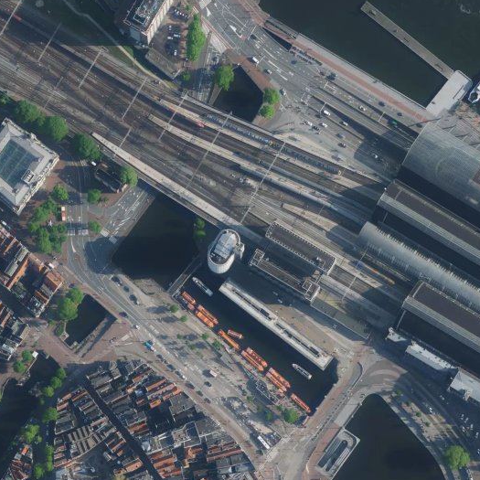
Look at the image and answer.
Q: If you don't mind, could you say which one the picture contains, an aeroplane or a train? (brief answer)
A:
train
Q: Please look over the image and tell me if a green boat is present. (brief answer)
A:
No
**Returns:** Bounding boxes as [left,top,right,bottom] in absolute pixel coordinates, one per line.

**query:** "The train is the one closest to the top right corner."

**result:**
[274,143,339,174]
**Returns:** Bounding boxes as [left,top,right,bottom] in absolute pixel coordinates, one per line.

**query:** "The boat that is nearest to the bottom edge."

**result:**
[290,393,311,413]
